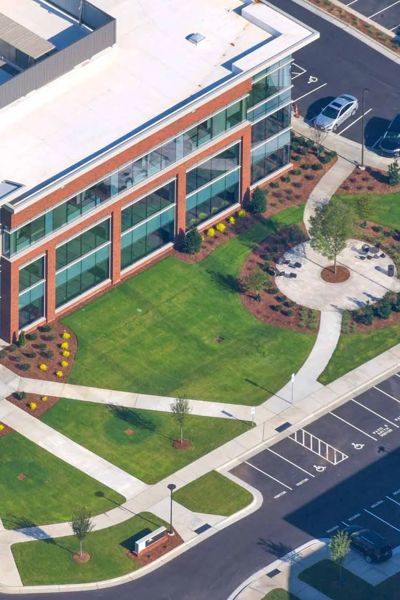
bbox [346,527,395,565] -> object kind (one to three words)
car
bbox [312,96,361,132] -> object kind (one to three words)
car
